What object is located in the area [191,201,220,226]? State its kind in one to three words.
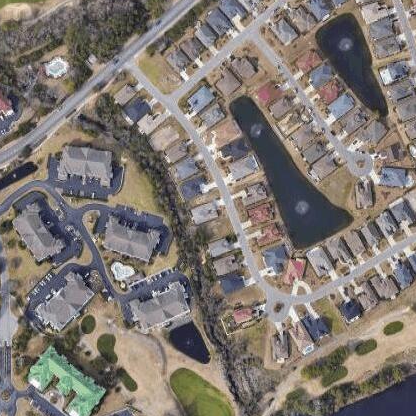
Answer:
house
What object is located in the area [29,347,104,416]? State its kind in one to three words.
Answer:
building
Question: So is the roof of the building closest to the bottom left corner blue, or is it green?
green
